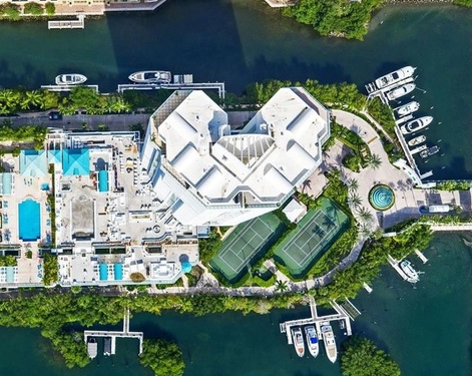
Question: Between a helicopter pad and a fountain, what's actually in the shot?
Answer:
fountain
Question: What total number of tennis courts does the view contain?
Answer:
2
